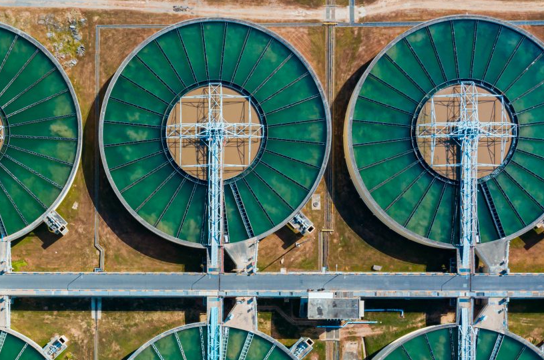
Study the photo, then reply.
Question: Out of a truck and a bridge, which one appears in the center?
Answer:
bridge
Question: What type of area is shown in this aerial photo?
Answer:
industrial area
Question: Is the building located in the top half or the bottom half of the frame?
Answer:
bottom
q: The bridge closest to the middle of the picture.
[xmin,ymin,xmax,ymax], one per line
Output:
[165,81,265,274]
